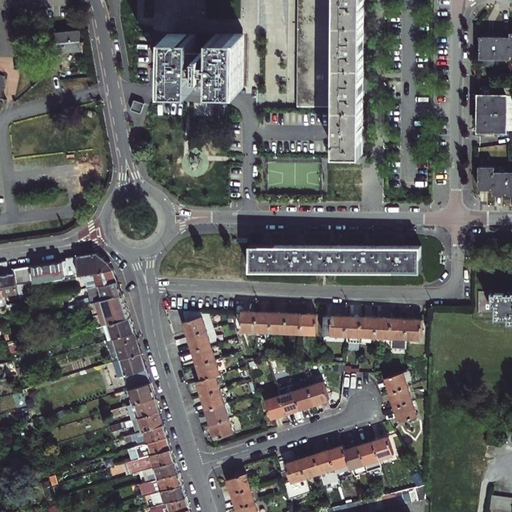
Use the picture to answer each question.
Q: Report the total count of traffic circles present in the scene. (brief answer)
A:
1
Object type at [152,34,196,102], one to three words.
building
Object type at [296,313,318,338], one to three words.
house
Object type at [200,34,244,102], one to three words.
building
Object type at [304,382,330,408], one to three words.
house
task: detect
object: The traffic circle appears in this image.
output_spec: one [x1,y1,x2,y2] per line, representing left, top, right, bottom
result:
[102,184,174,257]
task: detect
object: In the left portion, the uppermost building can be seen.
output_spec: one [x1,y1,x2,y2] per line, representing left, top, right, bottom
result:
[55,31,82,54]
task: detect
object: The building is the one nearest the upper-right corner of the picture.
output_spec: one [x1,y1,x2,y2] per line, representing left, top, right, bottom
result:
[480,31,512,60]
